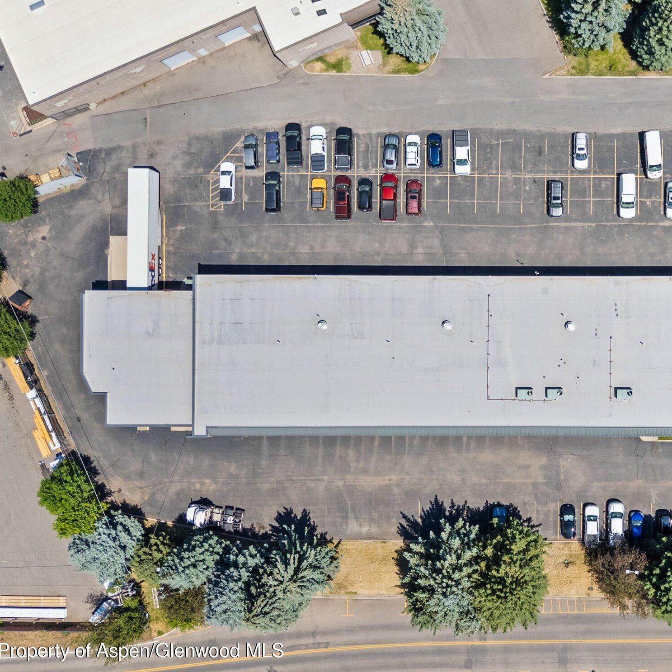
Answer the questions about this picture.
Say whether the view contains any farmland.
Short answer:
No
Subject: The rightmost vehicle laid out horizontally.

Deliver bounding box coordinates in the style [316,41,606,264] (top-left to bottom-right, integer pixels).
[187,504,248,529]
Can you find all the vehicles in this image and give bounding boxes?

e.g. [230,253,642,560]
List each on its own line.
[263,132,282,164]
[381,135,400,170]
[262,173,282,213]
[664,182,672,220]
[356,179,374,212]
[404,136,422,169]
[547,180,565,219]
[334,127,354,173]
[559,503,577,539]
[332,176,353,222]
[307,126,328,173]
[452,130,472,176]
[645,130,665,180]
[618,174,637,219]
[425,133,444,168]
[284,124,304,169]
[310,179,328,211]
[583,504,602,548]
[217,162,237,205]
[572,133,590,170]
[241,136,261,172]
[379,174,398,223]
[606,500,627,547]
[405,180,423,217]
[628,510,646,542]
[187,504,248,529]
